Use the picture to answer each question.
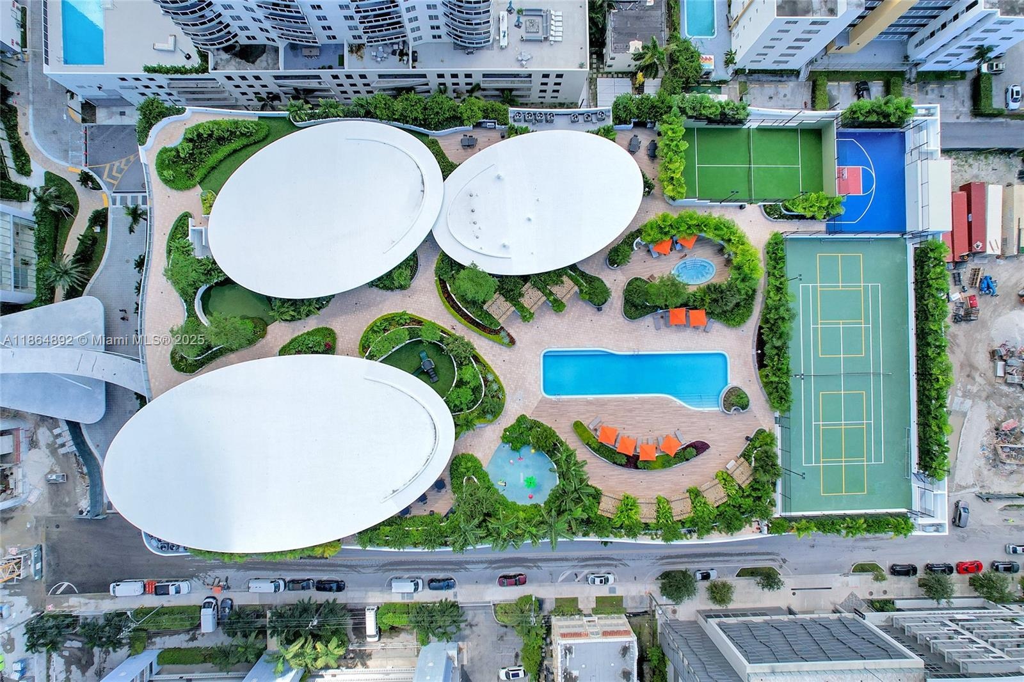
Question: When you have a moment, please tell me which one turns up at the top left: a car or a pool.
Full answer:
What appears at the top left is a pool.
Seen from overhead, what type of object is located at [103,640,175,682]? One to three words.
shed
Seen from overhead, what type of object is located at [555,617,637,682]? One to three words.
house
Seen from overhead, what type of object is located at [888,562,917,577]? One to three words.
car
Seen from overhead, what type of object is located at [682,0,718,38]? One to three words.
swimming pool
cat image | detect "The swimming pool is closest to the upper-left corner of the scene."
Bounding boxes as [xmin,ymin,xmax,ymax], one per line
[60,0,106,67]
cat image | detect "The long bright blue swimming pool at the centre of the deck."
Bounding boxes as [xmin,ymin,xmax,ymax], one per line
[541,348,730,411]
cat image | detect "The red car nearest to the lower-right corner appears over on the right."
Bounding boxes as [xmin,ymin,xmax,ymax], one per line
[954,559,983,575]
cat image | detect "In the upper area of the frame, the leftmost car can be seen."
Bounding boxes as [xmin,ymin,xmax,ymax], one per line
[851,76,870,102]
